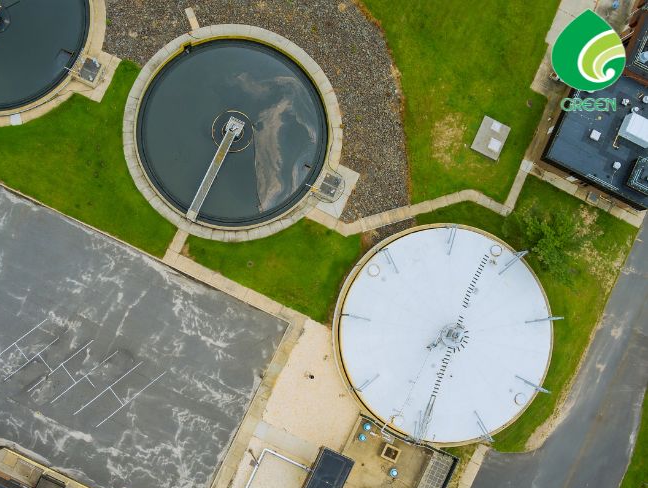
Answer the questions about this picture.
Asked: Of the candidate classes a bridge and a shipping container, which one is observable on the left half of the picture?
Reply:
bridge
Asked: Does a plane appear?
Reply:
No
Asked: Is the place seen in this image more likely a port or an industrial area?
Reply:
industrial area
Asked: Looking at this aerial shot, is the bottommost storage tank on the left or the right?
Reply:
right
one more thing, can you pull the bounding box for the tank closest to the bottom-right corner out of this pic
[331,224,561,445]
